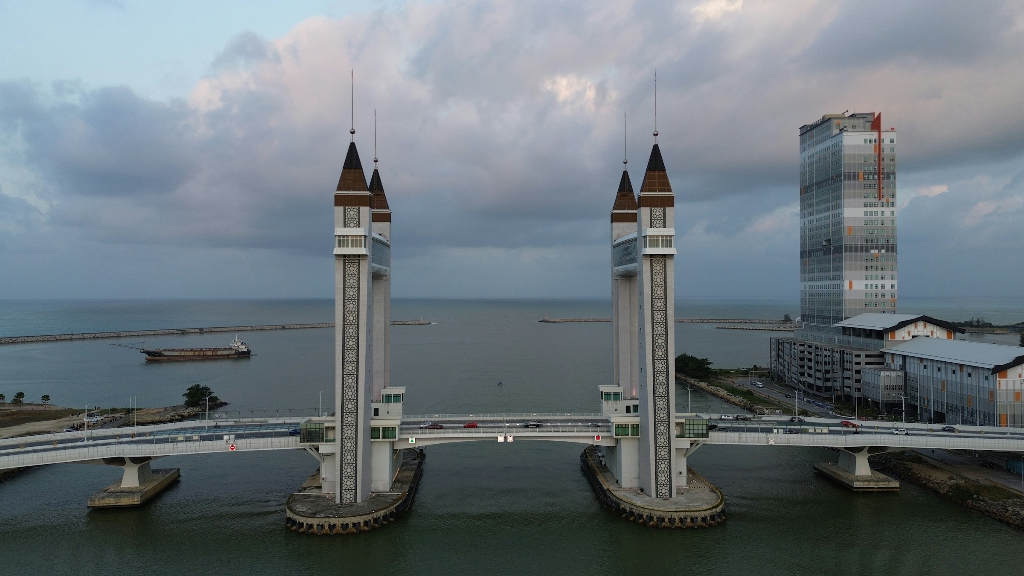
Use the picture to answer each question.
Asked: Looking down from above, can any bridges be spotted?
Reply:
Yes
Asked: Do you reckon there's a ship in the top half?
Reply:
No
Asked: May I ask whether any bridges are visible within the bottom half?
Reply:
Yes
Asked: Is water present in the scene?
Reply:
Yes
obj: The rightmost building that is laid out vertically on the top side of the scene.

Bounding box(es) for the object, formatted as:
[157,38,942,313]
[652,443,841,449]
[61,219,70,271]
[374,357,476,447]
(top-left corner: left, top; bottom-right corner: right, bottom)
[799,108,898,324]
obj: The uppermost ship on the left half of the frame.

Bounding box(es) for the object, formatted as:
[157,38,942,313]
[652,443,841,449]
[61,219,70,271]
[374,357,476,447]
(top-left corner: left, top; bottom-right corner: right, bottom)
[101,336,258,361]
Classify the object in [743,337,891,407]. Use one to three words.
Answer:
building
